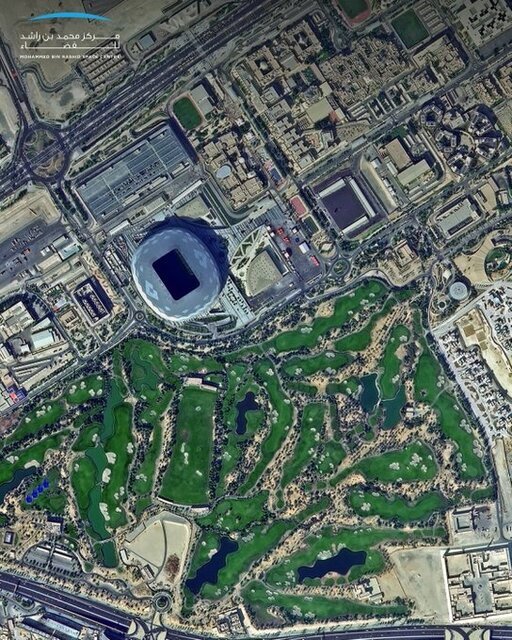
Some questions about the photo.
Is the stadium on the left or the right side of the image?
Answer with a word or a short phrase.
left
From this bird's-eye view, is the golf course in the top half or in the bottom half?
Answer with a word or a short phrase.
bottom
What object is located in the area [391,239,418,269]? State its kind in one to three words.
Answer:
building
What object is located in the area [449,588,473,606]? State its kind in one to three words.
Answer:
house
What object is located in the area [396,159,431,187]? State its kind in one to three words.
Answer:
building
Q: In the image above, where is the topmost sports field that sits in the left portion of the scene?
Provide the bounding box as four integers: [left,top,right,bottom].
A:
[168,90,207,135]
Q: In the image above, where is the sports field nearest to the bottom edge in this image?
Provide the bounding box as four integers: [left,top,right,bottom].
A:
[153,251,198,299]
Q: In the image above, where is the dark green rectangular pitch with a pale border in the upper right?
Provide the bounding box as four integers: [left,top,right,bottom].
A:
[389,7,431,51]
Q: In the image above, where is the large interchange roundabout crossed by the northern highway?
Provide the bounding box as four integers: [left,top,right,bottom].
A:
[19,127,66,180]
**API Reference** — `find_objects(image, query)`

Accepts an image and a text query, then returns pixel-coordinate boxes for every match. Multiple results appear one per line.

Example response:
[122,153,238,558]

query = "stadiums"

[131,230,223,322]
